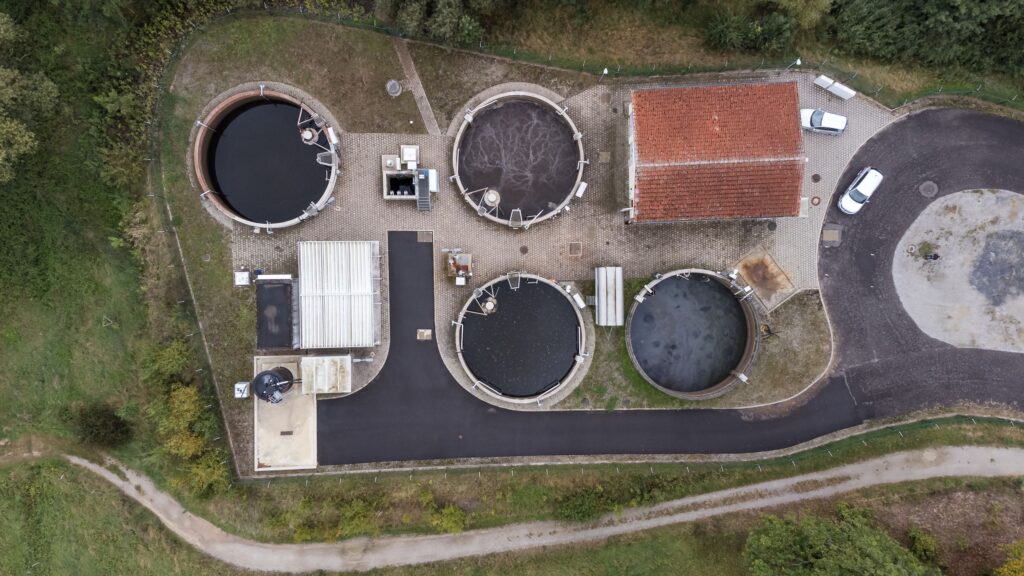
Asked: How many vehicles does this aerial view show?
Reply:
two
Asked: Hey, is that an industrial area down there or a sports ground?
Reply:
industrial area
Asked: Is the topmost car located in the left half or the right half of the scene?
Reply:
right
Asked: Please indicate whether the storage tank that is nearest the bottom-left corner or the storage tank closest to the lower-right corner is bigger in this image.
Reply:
the storage tank closest to the lower-right corner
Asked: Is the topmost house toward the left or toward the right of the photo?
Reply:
right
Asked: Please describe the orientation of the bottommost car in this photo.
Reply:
on a diagonal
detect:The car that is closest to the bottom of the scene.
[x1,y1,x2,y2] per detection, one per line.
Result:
[836,166,883,215]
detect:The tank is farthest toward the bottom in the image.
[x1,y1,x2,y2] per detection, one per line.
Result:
[251,367,302,406]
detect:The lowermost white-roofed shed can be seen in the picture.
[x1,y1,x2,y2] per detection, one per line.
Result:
[302,355,355,393]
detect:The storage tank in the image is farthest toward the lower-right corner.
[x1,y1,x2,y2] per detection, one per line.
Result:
[625,267,759,401]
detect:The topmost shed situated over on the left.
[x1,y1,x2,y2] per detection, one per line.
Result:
[292,240,383,348]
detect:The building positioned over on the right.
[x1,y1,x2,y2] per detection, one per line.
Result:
[620,79,811,223]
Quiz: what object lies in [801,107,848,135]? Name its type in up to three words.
car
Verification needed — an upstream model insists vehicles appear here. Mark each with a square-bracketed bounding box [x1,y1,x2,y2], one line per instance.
[801,107,848,135]
[836,166,883,215]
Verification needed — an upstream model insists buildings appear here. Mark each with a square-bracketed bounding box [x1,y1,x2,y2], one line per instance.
[620,79,811,223]
[292,240,383,348]
[302,355,355,393]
